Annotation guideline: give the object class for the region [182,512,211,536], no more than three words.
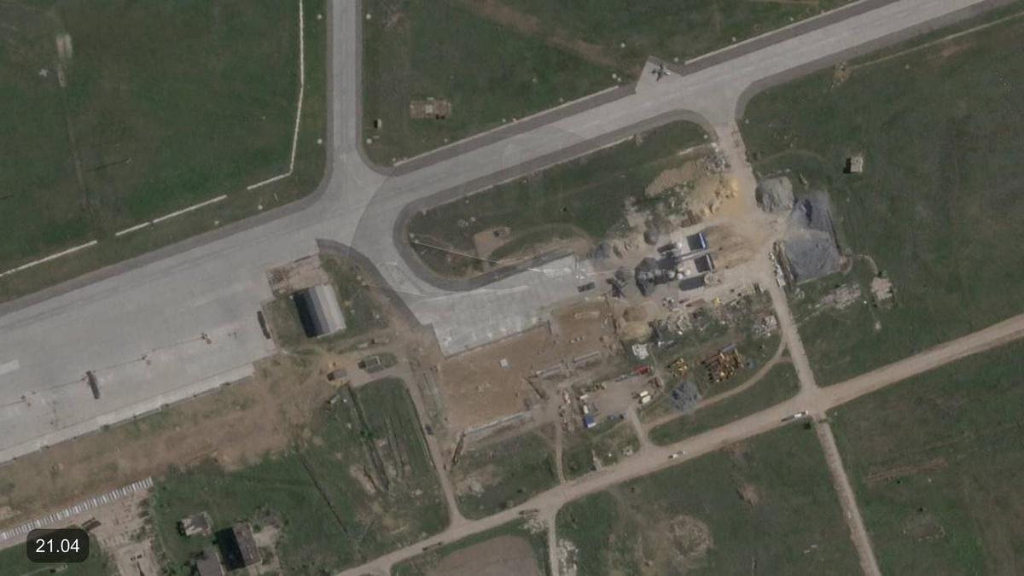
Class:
shed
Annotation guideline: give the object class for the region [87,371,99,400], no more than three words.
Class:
vehicle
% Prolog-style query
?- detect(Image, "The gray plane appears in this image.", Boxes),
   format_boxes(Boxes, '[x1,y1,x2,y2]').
[650,61,671,83]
